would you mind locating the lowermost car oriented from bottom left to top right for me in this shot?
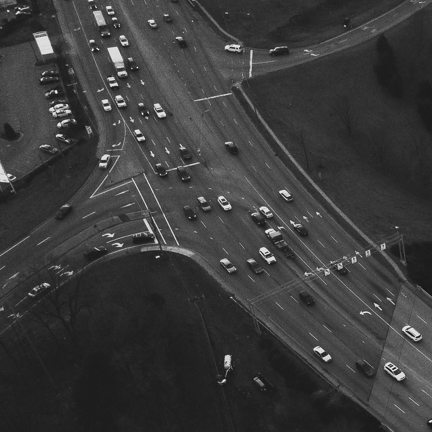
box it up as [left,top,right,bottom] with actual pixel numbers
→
[26,284,51,300]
